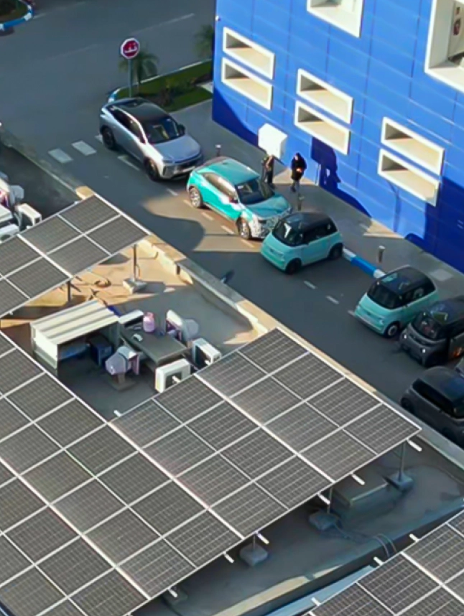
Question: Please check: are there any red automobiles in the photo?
No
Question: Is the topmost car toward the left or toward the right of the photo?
left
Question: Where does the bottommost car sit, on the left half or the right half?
right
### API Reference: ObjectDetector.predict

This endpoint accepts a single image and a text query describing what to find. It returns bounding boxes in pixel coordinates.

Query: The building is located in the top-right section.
[210,0,464,288]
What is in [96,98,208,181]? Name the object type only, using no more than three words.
car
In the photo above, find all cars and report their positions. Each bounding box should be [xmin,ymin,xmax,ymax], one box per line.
[183,157,297,241]
[401,356,464,443]
[260,205,346,274]
[404,284,464,360]
[351,262,439,336]
[96,98,208,181]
